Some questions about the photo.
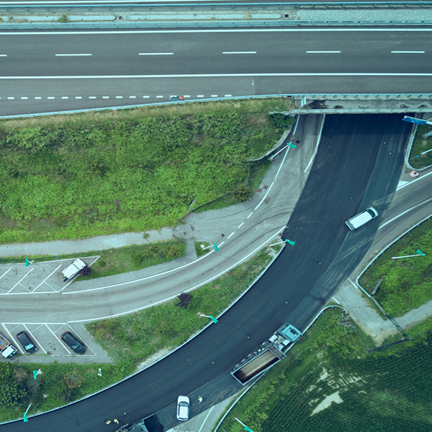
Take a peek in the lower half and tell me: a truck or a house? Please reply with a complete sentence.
There is a truck in the lower half.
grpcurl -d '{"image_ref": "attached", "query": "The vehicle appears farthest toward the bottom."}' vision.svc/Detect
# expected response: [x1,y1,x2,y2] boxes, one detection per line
[176,394,190,420]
